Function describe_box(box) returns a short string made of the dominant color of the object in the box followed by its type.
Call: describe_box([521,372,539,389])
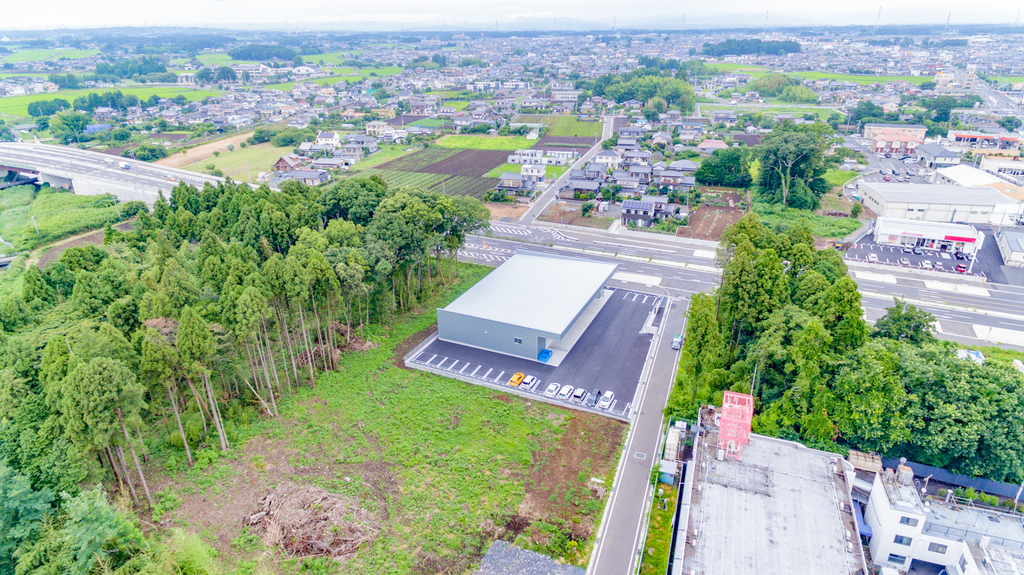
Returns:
white car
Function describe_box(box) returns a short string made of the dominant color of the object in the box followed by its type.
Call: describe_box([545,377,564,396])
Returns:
white car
